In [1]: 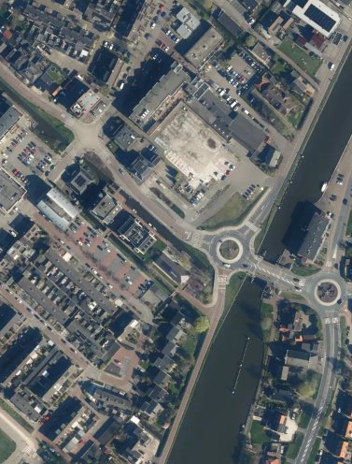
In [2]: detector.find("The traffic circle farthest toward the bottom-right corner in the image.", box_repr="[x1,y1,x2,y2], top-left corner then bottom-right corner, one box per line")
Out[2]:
[310,275,343,307]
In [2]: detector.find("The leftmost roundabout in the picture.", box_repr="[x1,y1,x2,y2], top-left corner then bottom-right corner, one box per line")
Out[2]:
[210,233,247,269]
